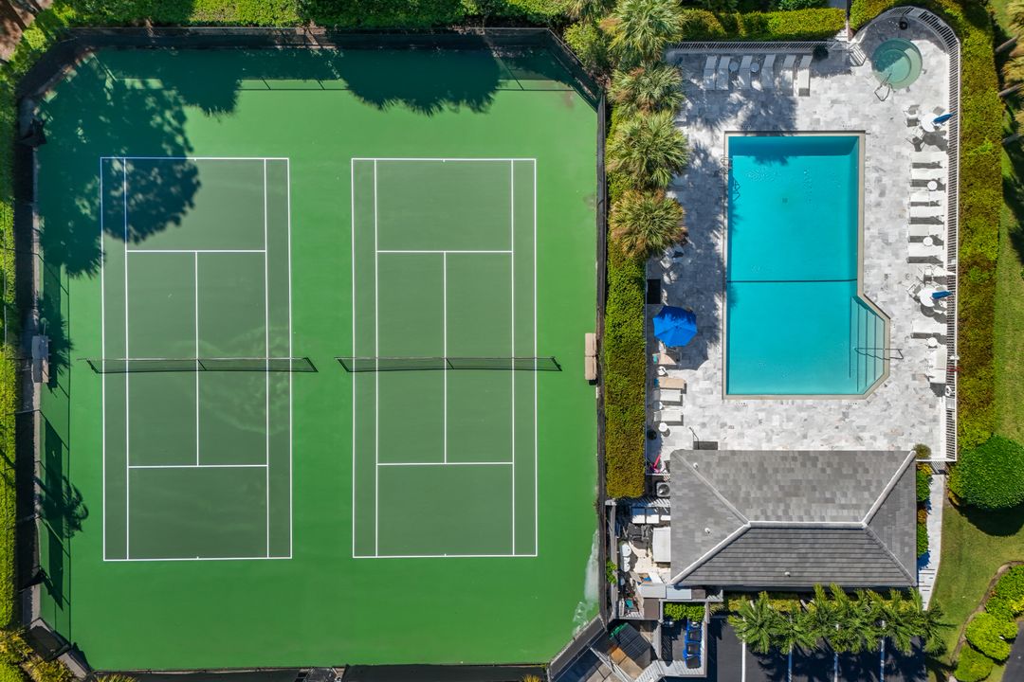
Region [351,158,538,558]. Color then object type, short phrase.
green tennis court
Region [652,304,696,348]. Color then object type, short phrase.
blue umbrella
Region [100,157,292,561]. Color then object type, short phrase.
green tennis court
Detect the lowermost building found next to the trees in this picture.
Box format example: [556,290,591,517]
[669,449,919,586]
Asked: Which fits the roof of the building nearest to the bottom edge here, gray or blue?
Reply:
gray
